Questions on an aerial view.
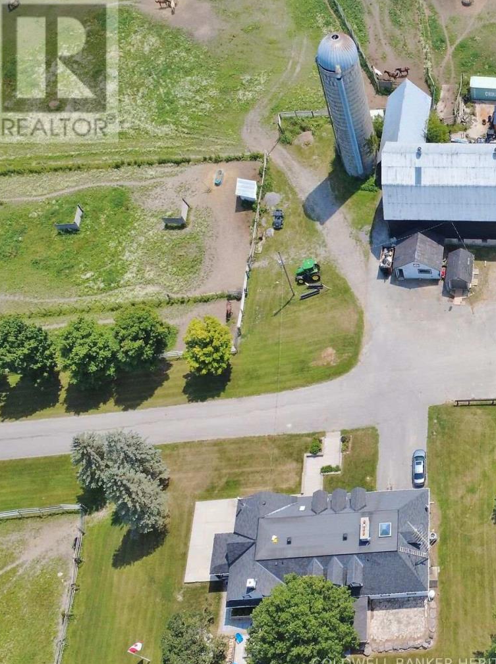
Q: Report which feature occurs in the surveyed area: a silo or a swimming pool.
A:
silo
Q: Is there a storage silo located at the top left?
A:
No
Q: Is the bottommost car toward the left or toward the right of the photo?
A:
right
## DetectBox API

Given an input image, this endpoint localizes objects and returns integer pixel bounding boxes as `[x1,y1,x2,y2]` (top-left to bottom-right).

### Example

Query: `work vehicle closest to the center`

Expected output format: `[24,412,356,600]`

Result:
[289,262,323,285]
